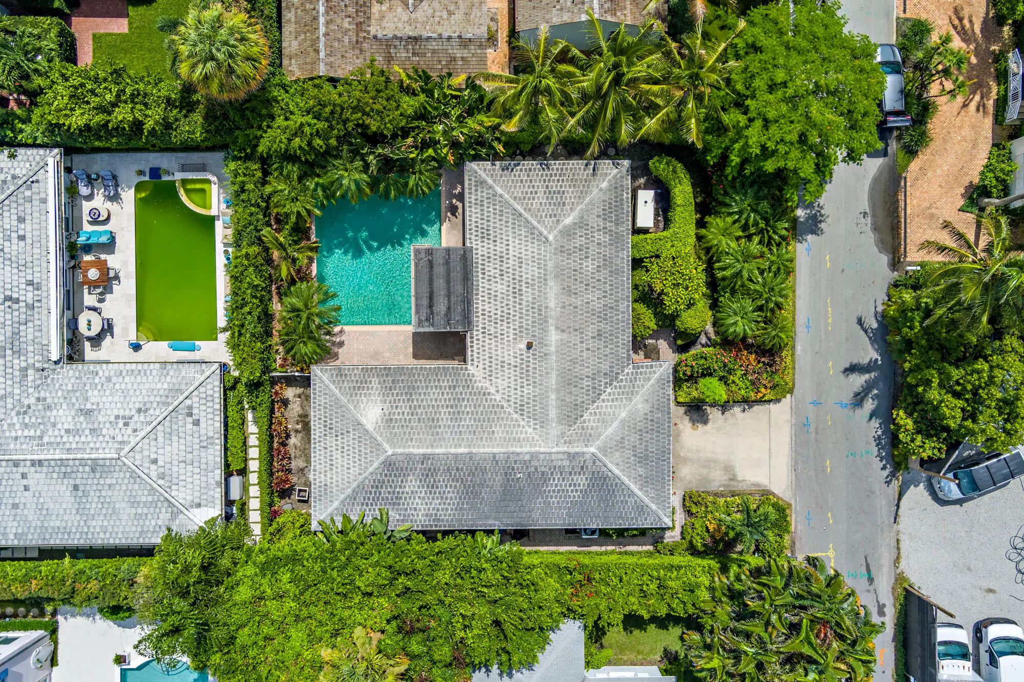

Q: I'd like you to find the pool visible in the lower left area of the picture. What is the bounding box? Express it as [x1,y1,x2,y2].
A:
[121,660,208,682]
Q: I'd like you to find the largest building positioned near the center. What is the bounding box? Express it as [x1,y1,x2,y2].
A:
[309,159,673,530]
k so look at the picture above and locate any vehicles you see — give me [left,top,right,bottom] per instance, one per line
[980,617,1024,682]
[927,454,1021,507]
[937,618,974,682]
[863,44,906,128]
